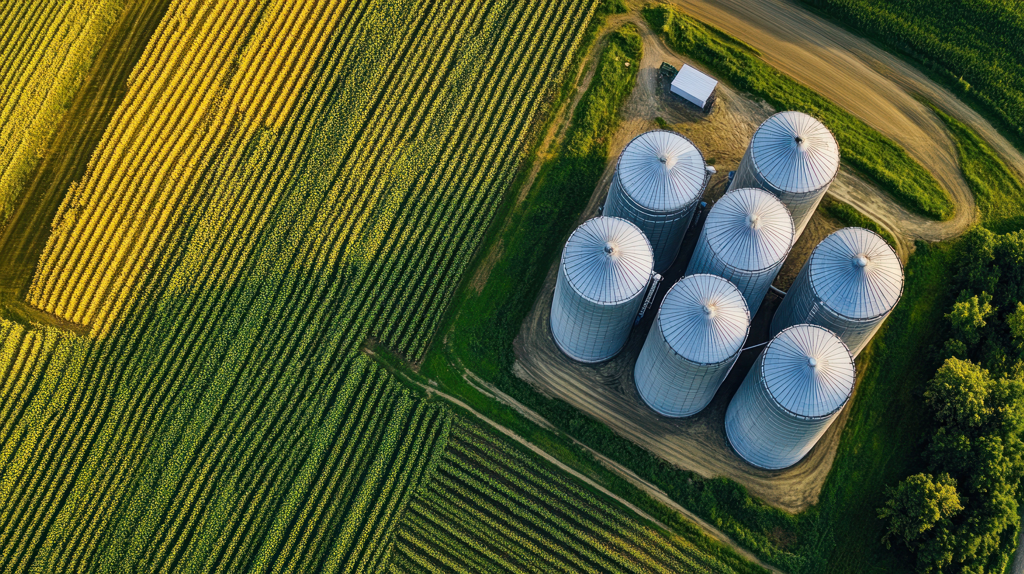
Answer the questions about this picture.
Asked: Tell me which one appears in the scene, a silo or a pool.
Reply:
silo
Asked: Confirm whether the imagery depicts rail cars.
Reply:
No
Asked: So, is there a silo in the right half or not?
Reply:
Yes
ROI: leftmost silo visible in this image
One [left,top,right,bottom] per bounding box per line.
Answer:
[546,215,656,365]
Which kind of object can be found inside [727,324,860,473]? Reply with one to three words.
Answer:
silo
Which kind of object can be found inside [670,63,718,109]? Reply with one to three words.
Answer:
shed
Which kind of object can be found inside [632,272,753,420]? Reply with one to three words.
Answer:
silo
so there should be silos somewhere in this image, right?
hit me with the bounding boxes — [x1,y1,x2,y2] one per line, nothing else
[771,225,907,360]
[727,324,860,473]
[681,187,797,324]
[731,108,842,254]
[632,272,753,420]
[604,126,718,274]
[546,215,656,365]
